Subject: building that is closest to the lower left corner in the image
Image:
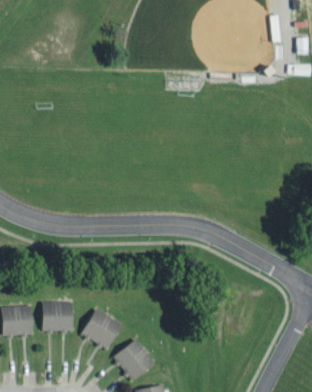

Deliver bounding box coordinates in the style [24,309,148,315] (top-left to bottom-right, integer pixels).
[2,304,34,338]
